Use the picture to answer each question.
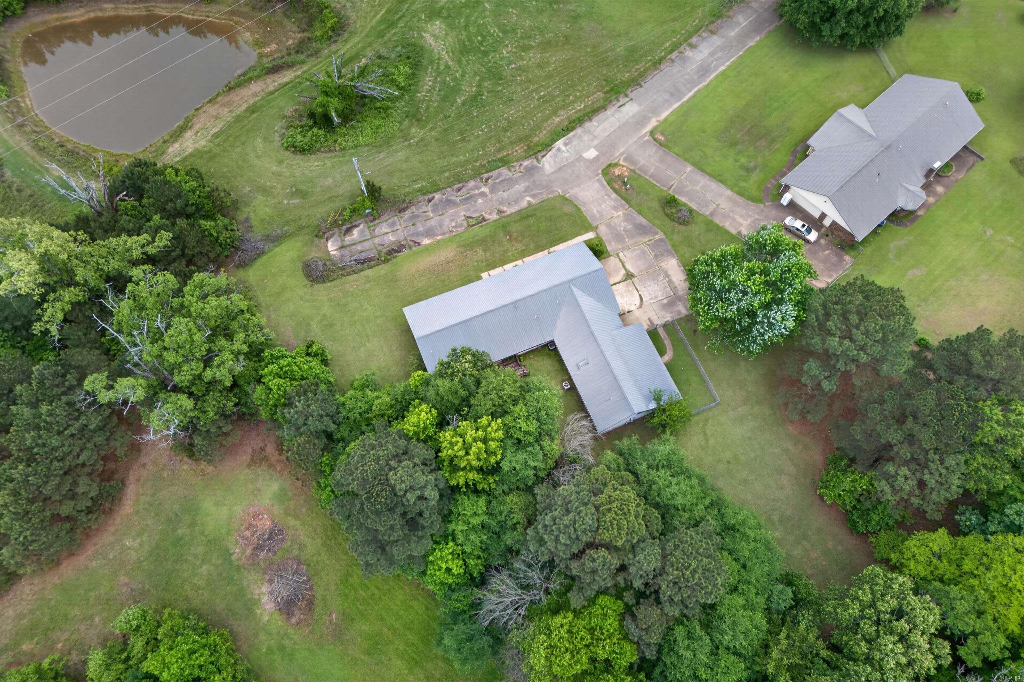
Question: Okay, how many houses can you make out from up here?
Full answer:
The photo contains 2 houses.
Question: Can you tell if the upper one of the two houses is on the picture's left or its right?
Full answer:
The upper one of the two houses is on the right side of the image.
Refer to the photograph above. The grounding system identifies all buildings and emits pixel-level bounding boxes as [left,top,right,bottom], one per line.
[403,242,683,434]
[778,73,984,245]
